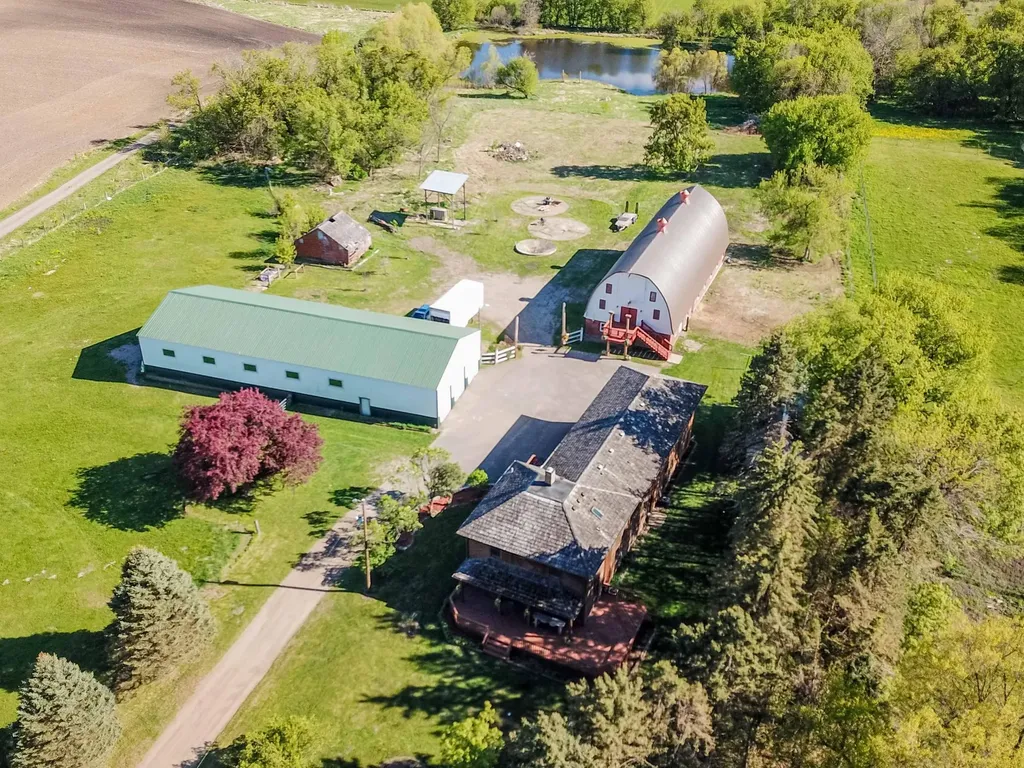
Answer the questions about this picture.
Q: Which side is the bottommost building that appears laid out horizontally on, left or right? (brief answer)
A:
left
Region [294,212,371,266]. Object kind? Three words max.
shed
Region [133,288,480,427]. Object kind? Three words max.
building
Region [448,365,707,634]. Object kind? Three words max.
house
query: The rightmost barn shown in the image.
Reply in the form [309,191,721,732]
[583,183,730,362]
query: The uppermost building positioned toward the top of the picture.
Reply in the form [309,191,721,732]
[420,171,468,229]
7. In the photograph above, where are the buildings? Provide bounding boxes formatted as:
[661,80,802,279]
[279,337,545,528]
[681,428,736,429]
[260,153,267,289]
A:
[294,212,371,266]
[420,171,468,229]
[583,183,730,362]
[133,288,480,427]
[448,365,707,634]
